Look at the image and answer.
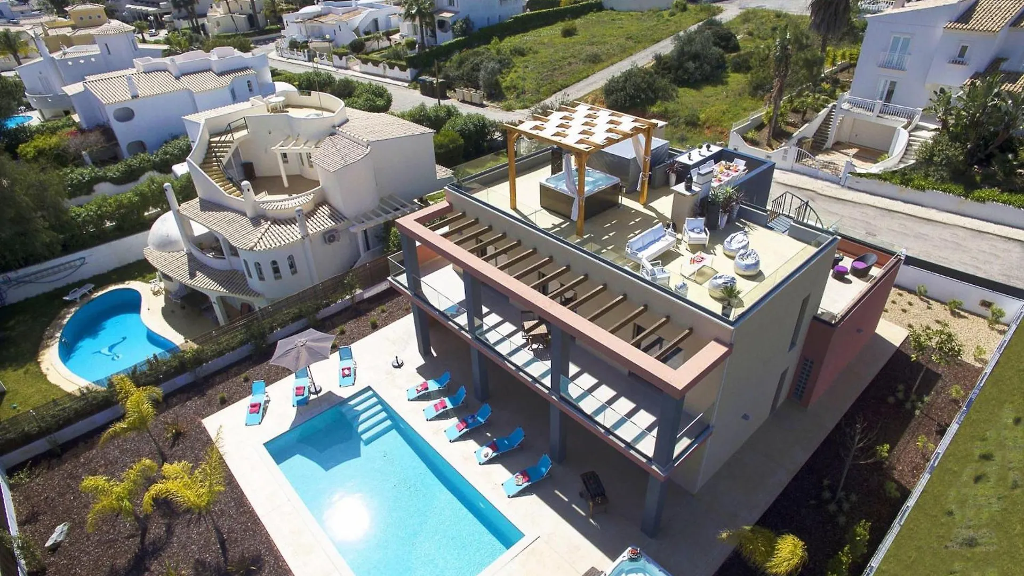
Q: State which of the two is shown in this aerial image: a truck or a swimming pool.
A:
swimming pool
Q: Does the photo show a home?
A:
Yes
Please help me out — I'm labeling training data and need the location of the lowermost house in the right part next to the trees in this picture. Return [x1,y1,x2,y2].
[388,137,904,539]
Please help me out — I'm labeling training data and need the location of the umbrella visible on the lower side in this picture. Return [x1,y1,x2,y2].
[271,328,335,396]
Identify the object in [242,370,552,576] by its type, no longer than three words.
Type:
swimming pool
